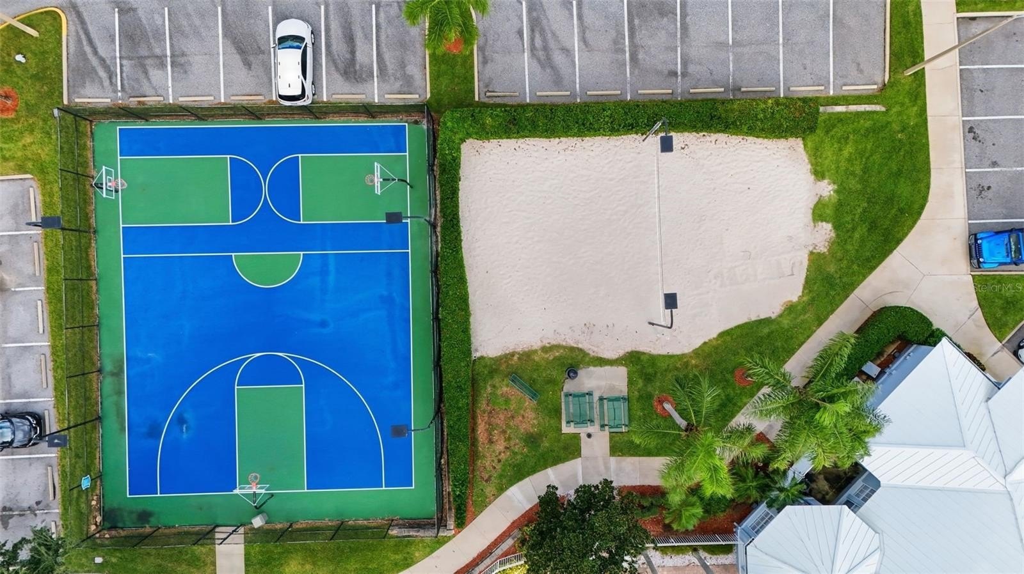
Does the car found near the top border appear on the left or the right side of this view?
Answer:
left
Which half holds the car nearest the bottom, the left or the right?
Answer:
left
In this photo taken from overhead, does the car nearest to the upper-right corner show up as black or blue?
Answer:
blue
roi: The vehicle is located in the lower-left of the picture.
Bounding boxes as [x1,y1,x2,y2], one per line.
[0,410,45,456]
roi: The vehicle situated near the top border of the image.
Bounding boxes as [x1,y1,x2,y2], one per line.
[267,19,314,105]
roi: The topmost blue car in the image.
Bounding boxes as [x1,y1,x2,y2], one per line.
[967,227,1024,270]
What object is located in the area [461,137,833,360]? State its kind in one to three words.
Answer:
sports court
